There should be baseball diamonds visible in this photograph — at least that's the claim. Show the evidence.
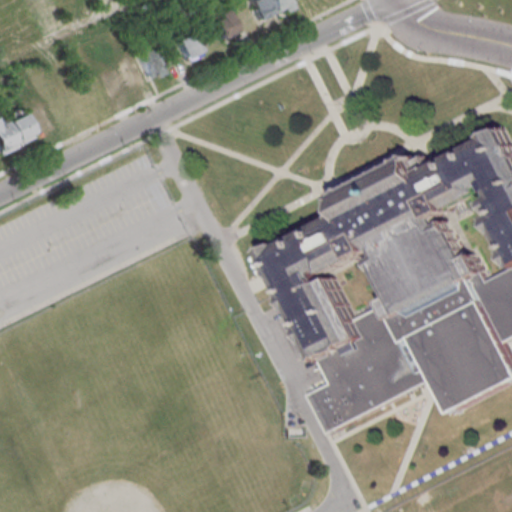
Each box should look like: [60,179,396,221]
[0,243,307,512]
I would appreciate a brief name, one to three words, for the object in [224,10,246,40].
house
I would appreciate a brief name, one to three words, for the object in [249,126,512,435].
building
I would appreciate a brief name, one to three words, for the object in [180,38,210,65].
house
